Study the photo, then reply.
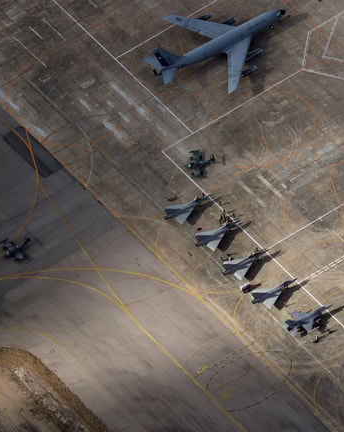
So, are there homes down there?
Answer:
No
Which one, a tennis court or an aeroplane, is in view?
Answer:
aeroplane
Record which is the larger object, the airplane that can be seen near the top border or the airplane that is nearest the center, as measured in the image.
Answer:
the airplane that can be seen near the top border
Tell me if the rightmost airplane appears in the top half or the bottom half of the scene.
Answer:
bottom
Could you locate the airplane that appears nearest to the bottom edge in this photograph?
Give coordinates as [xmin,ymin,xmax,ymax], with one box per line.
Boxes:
[283,305,331,335]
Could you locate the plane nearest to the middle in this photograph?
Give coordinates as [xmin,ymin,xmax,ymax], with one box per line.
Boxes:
[164,195,212,226]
